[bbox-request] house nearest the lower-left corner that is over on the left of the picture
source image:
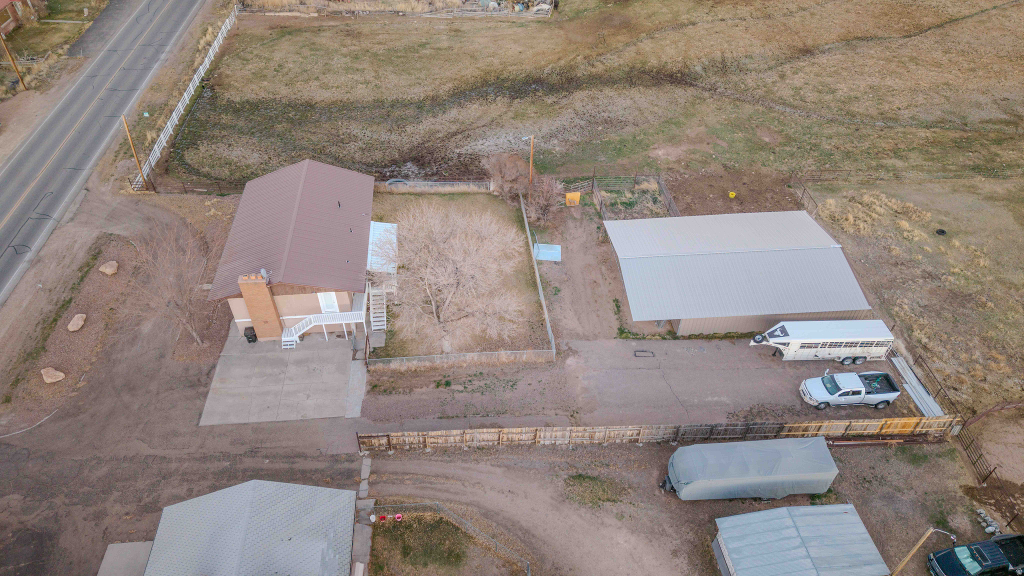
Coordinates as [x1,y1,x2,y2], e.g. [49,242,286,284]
[141,480,359,576]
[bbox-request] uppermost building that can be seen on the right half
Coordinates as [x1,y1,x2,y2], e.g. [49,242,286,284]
[604,212,872,338]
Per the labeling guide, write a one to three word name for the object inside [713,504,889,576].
shed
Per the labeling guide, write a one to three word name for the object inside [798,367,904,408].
truck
